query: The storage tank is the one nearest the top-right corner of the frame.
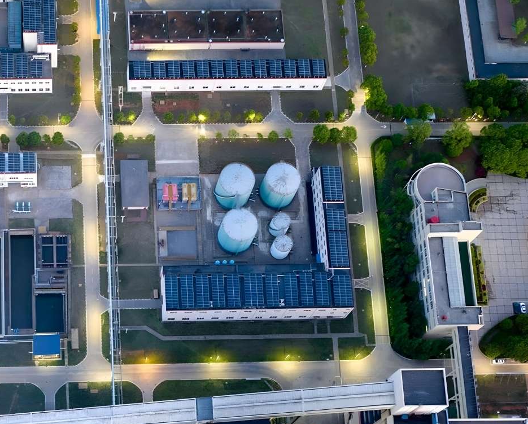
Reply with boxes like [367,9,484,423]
[260,162,301,208]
